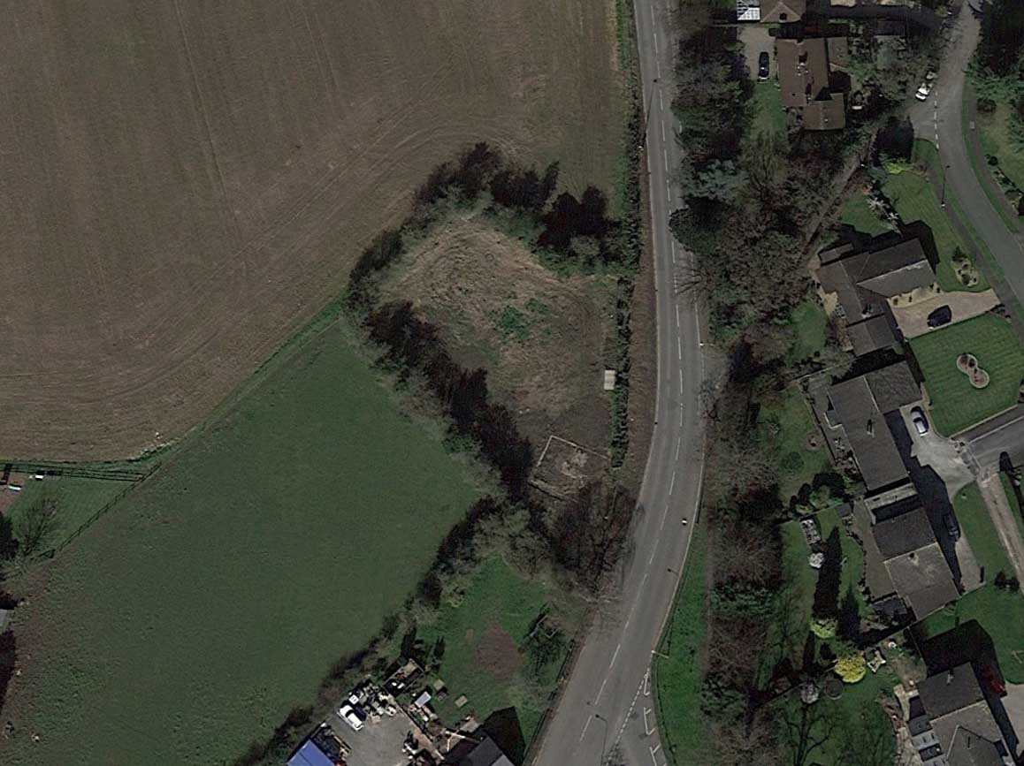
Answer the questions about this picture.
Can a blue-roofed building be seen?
Yes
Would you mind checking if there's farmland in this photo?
Yes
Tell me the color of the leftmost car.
white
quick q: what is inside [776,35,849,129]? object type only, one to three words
house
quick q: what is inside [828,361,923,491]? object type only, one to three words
house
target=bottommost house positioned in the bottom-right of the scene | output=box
[910,665,1018,766]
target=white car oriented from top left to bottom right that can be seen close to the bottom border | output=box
[338,701,363,728]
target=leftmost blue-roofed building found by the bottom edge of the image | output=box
[282,735,338,766]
